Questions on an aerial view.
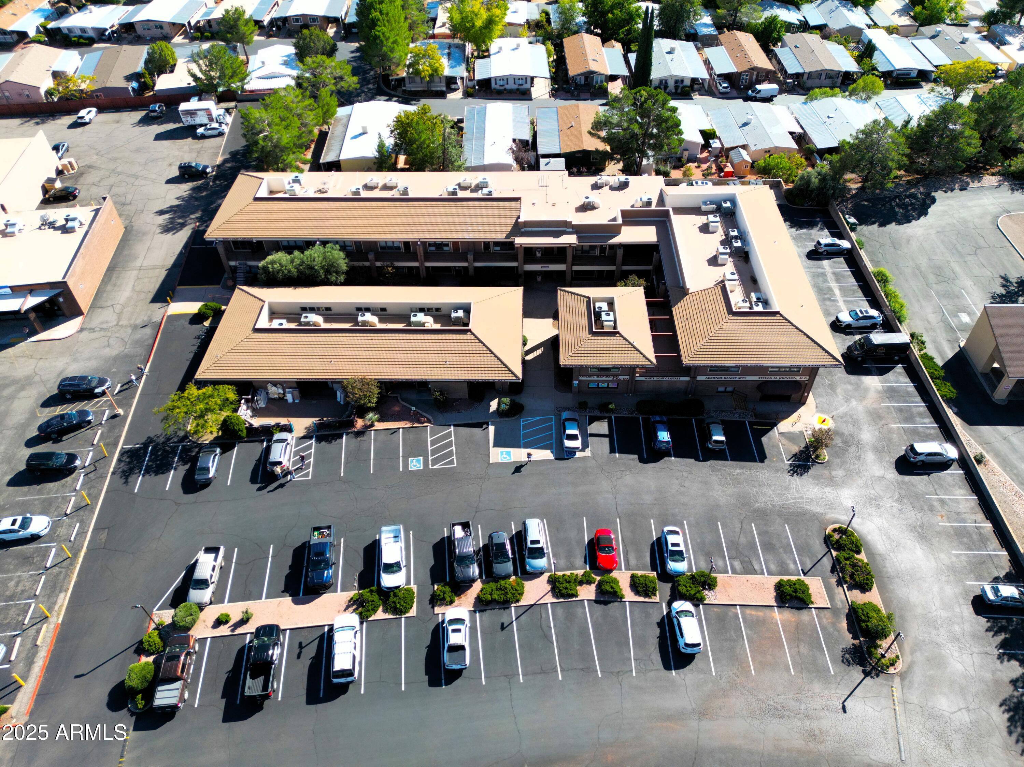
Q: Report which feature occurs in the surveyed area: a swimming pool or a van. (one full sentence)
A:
I can see a van in this picture.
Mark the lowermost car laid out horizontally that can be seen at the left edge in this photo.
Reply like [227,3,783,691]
[0,514,50,543]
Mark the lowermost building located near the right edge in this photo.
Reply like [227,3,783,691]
[962,305,1024,404]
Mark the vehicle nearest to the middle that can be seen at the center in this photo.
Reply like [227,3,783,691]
[560,413,582,452]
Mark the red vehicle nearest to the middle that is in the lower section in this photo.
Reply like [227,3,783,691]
[594,527,619,571]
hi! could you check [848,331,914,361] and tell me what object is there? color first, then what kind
black van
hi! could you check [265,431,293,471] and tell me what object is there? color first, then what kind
white car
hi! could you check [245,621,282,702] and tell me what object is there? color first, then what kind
black truck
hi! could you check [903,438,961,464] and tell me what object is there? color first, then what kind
white car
